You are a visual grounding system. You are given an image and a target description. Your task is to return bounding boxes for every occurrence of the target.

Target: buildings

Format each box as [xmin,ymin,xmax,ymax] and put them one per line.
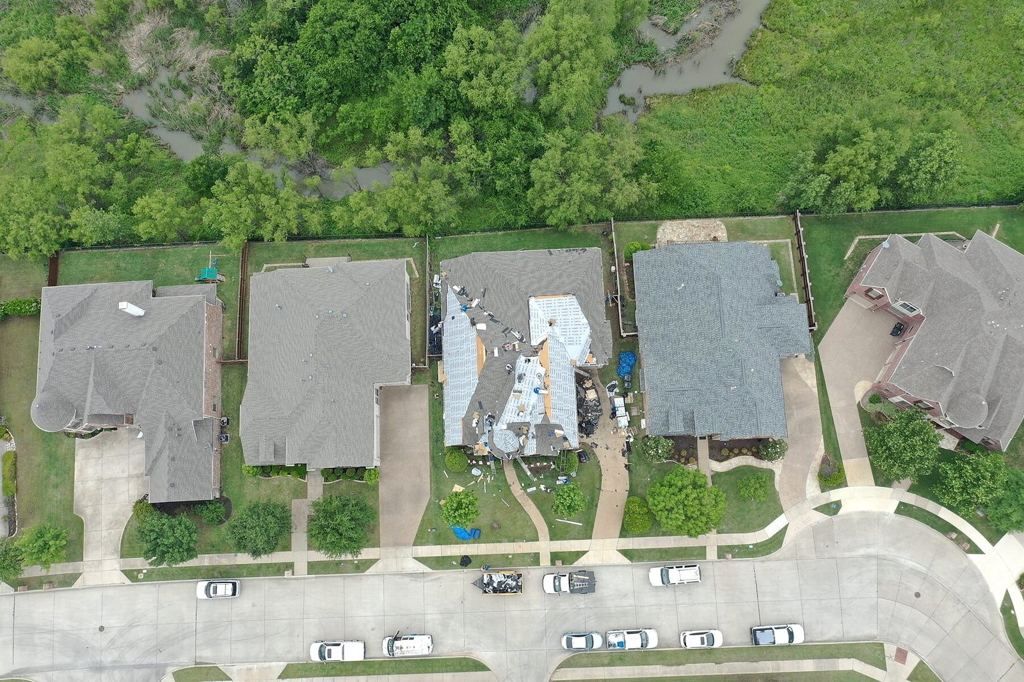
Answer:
[29,280,224,504]
[629,241,811,441]
[239,259,414,471]
[440,247,613,462]
[845,228,1024,453]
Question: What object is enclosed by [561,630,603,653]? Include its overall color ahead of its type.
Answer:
white car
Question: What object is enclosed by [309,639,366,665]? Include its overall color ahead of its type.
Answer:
white truck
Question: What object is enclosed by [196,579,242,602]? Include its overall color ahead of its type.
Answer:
white car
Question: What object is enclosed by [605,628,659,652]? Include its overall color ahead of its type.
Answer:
white truck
